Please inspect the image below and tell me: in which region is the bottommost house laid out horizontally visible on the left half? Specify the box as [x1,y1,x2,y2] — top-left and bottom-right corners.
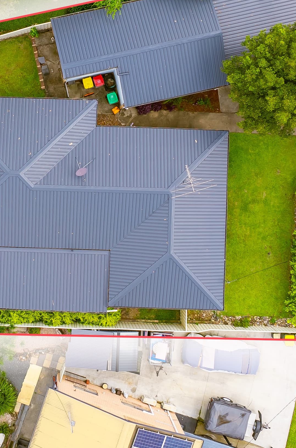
[26,374,187,448]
